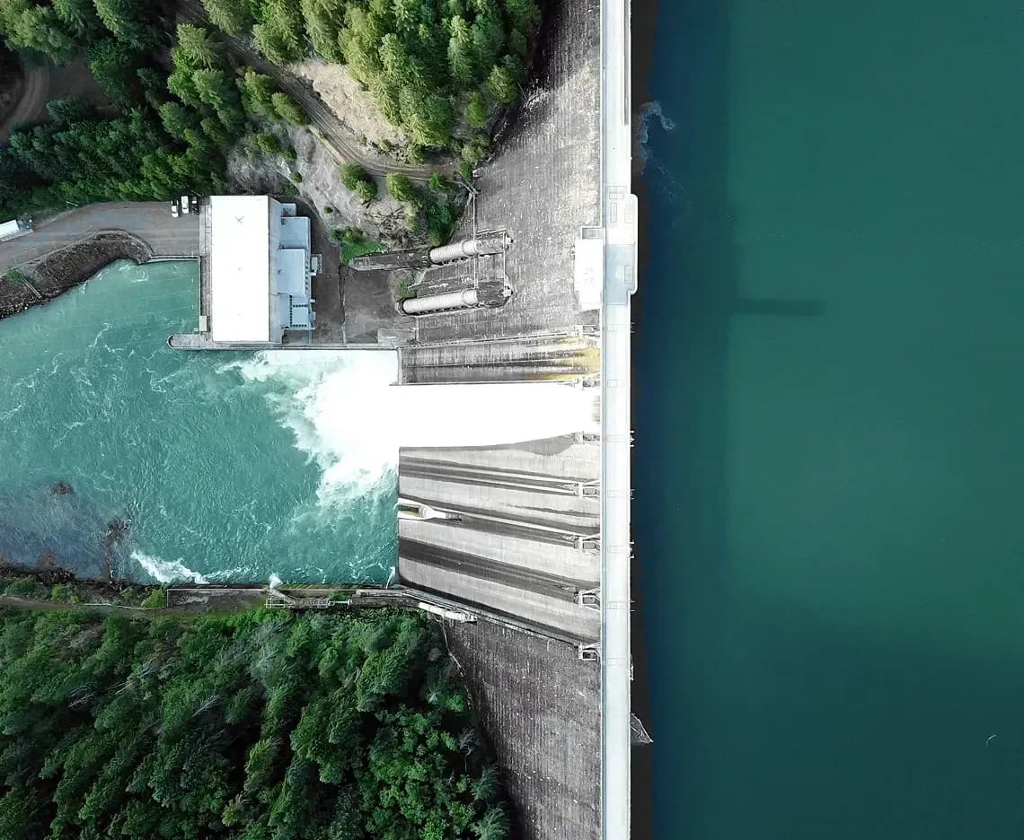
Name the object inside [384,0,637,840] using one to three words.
dam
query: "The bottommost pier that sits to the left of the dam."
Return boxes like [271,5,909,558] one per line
[171,334,221,351]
